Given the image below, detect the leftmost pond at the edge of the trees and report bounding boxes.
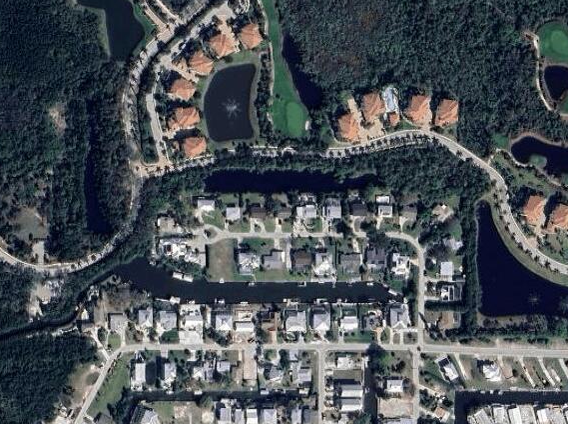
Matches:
[78,0,143,60]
